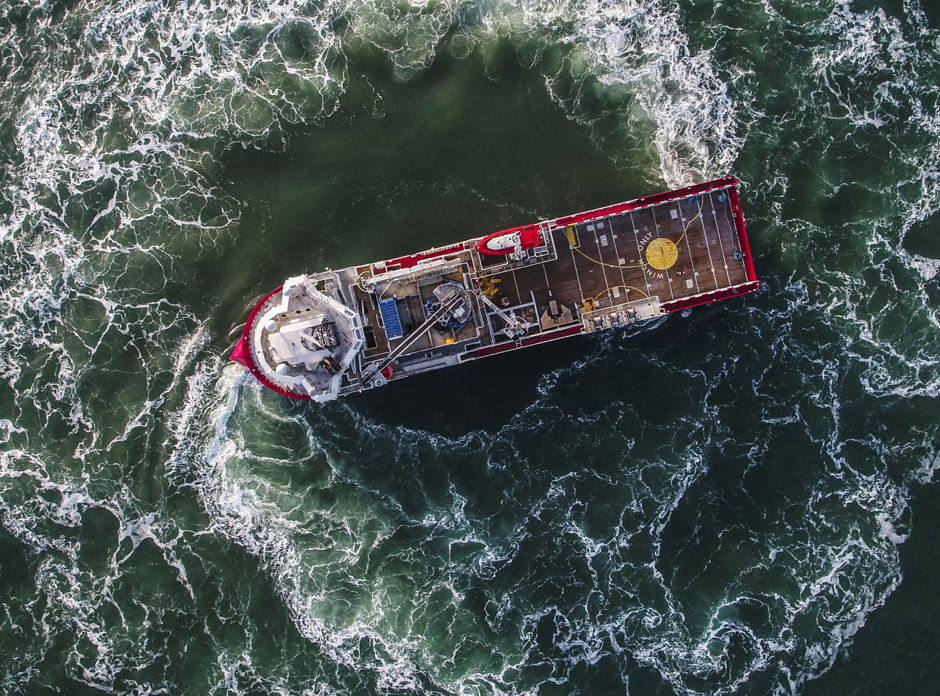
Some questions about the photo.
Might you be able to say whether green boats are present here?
No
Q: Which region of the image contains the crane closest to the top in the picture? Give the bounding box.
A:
[356,259,445,292]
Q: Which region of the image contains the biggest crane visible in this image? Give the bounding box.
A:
[355,282,474,387]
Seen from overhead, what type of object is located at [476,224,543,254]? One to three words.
boat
